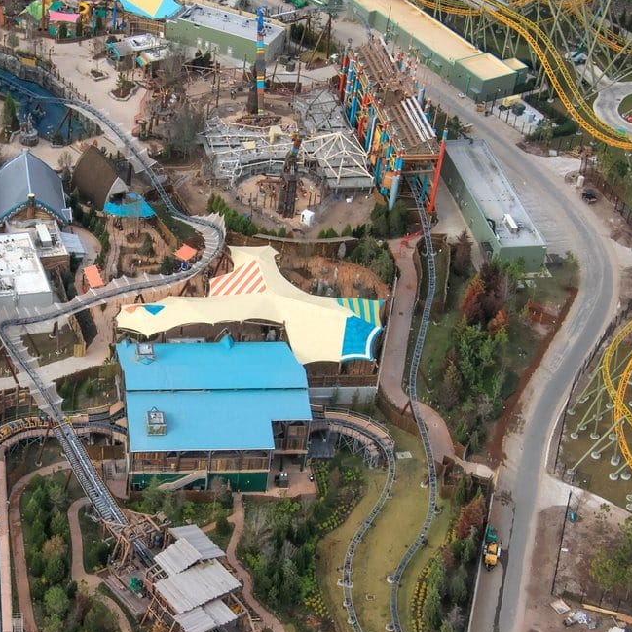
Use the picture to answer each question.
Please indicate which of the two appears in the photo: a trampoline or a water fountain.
water fountain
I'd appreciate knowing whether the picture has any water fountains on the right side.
No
